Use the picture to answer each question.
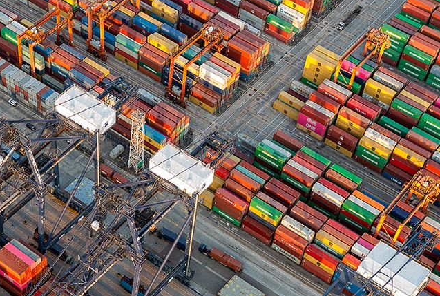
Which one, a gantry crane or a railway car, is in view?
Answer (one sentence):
This aerial view contains a gantry crane.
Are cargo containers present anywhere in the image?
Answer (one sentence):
Yes, the photo shows a cargo container.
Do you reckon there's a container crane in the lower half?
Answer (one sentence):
Yes, a container crane can be seen in the lower half.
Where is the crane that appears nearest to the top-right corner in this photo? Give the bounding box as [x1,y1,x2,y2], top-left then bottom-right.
[326,17,394,100]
